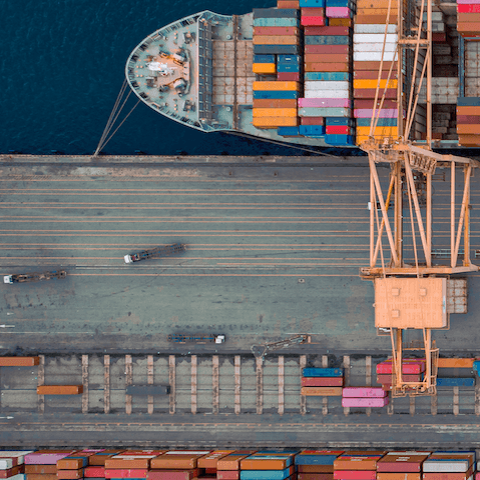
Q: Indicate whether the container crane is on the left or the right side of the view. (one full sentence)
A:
The container crane appears in the right half of the scene.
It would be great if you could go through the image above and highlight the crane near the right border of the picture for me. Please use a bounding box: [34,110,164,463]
[358,0,480,398]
